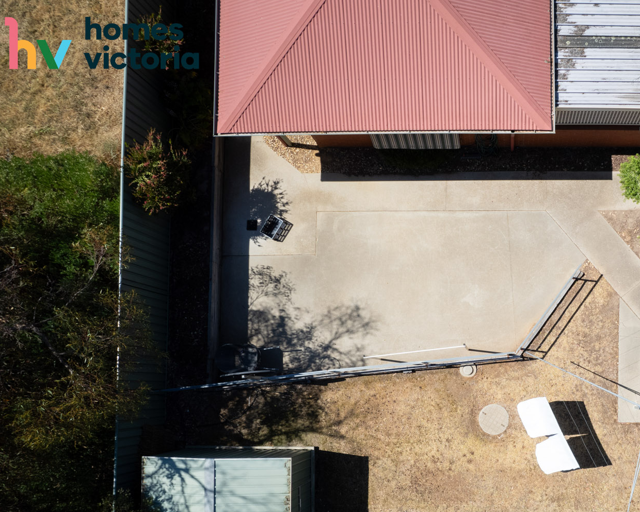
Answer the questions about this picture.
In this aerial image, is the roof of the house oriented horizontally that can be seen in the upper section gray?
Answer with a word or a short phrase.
No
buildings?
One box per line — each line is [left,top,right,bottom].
[214,0,565,151]
[139,447,317,512]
